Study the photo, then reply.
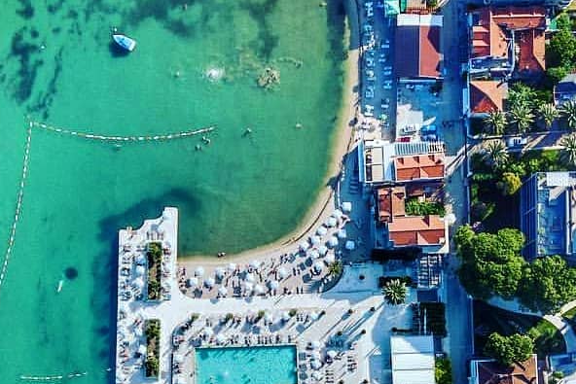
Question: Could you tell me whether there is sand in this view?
Yes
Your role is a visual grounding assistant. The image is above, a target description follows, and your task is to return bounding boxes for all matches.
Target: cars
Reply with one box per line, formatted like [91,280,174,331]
[506,137,525,145]
[419,123,438,132]
[419,133,438,141]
